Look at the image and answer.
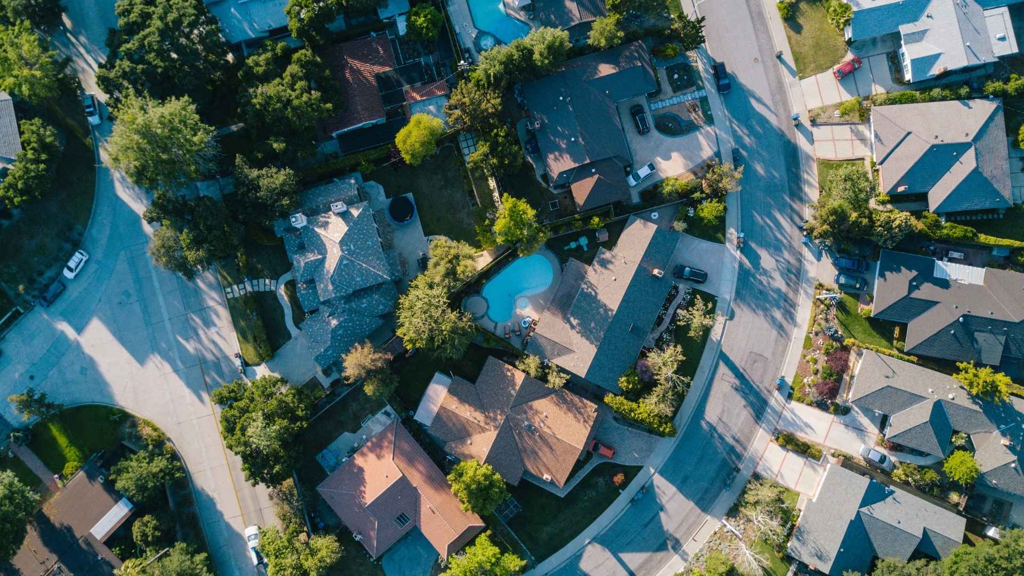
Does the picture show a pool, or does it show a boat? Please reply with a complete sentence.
The image shows a pool.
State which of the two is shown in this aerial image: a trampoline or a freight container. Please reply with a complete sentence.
Visible in the photo is a trampoline.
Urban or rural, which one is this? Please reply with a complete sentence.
It looks urban.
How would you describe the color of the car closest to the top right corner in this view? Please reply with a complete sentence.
The color of the car closest to the top right corner is red.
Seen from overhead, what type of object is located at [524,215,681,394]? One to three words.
house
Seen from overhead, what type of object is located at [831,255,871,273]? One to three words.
vehicle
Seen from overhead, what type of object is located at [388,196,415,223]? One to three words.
trampoline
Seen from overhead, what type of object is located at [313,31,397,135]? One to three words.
house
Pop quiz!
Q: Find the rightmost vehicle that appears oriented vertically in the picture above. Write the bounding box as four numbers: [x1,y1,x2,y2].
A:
[711,58,732,98]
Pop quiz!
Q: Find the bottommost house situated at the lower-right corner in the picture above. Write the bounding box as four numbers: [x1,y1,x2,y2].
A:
[786,463,967,576]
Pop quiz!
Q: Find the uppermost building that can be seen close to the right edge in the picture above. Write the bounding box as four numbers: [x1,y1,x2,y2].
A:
[843,0,1024,84]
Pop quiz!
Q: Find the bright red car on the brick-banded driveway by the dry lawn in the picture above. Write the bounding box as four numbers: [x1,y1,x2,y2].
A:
[829,55,863,81]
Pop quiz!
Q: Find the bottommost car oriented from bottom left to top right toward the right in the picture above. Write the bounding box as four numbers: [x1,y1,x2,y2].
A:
[627,161,658,187]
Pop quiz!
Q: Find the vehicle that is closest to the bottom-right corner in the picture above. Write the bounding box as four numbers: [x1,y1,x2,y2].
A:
[859,445,892,470]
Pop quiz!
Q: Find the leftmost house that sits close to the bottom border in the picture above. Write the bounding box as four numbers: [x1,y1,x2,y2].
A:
[12,468,139,576]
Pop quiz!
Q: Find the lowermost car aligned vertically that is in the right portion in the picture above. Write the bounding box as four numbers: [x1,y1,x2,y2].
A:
[631,102,650,137]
